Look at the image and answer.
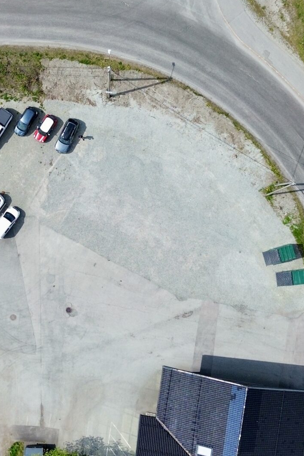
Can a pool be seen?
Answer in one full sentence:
No, I find no pool anywhere in the image.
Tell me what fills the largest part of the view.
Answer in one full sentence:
The bulk of the photo consists of paved ground.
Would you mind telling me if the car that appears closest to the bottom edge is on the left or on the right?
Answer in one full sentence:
The car that appears closest to the bottom edge is on the left side of the image.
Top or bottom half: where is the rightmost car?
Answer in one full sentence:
Seen from above, the rightmost car lies in the top half of the view.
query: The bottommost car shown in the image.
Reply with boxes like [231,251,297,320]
[0,204,21,242]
